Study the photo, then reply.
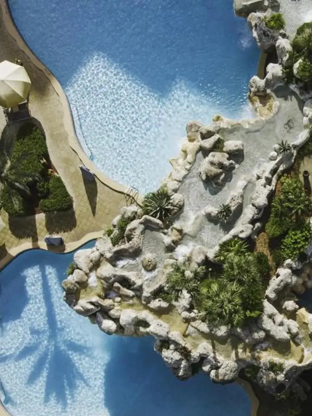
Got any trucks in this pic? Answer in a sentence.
No, there appears to be no truck in this shot.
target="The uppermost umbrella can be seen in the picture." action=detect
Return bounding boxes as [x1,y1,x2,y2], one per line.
[0,61,33,110]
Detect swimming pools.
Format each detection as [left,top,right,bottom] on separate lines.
[0,249,253,416]
[4,0,254,196]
